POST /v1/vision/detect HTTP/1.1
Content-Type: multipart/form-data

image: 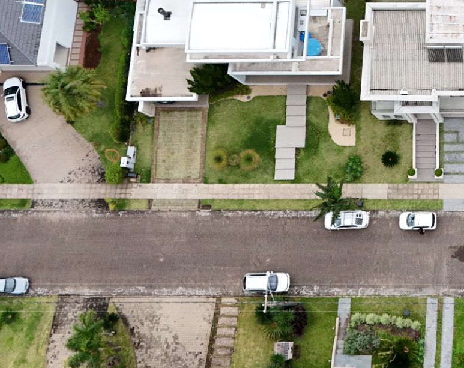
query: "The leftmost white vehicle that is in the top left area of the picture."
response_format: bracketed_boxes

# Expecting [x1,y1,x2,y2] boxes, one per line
[2,80,28,120]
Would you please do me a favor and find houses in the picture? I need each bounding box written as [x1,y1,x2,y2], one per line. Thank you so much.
[358,0,464,123]
[0,0,73,80]
[126,0,348,116]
